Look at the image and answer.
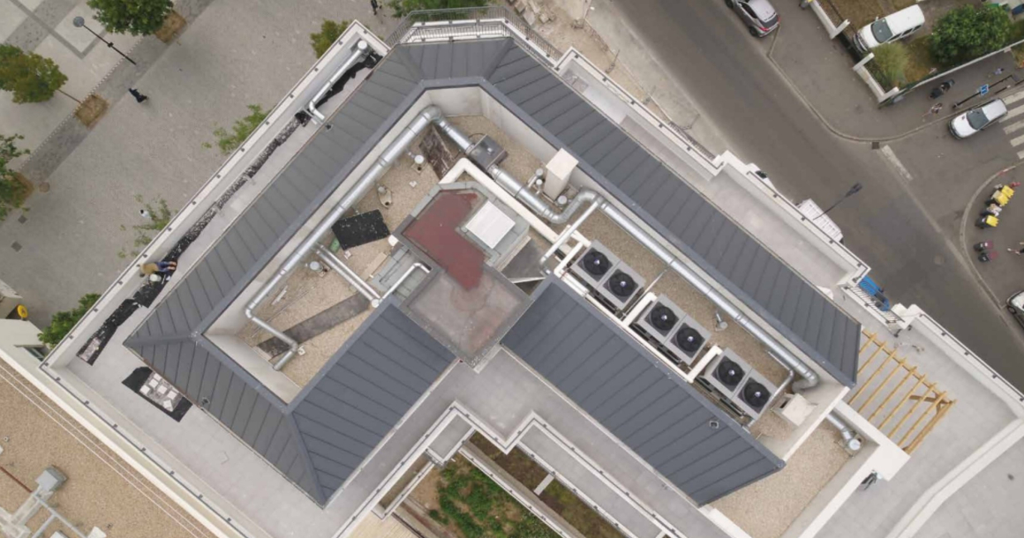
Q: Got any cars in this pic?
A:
Yes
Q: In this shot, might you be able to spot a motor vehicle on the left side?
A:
No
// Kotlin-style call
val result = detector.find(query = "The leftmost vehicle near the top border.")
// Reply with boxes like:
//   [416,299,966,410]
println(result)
[727,0,786,43]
